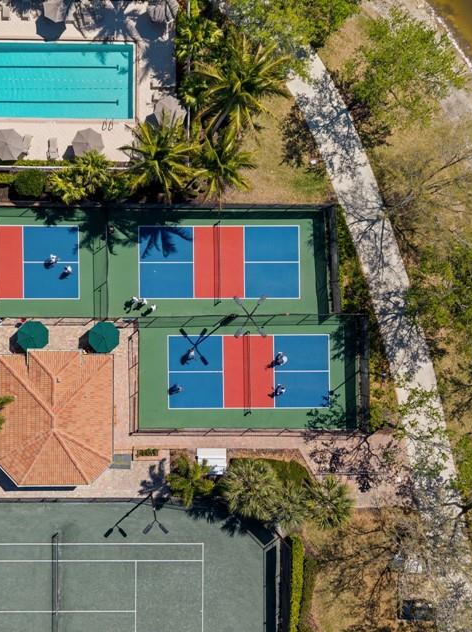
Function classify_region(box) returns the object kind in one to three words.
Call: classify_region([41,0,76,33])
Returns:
umbrella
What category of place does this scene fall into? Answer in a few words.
sports ground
